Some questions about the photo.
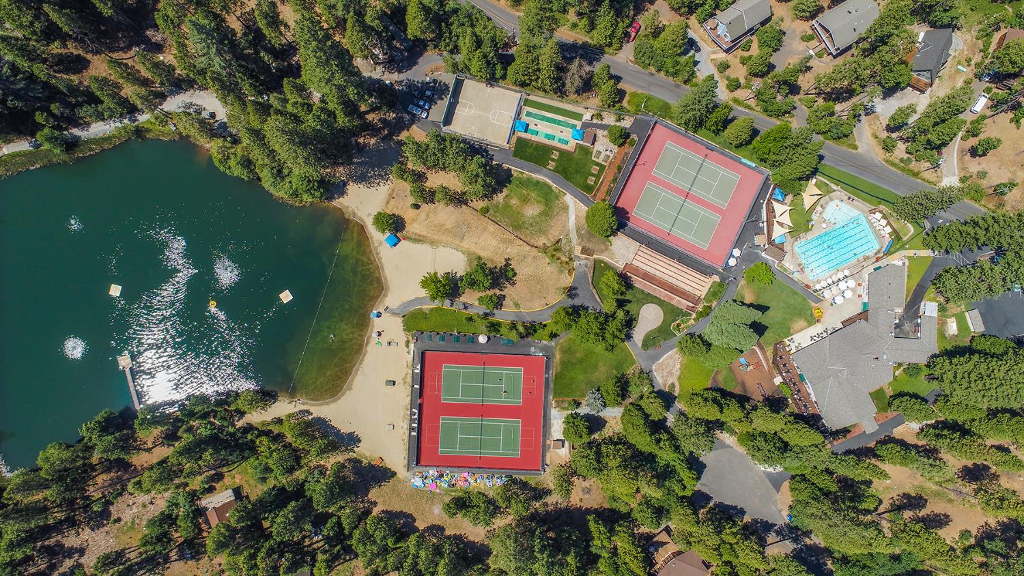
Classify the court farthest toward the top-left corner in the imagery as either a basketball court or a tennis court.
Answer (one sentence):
I'd identify the court farthest toward the top-left corner as a basketball court.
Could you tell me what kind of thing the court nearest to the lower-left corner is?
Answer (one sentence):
The court nearest to the lower-left corner can be classified as a tennis court.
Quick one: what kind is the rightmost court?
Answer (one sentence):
The rightmost court in the image is a tennis court.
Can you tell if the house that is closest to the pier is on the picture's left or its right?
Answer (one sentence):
It is on the left.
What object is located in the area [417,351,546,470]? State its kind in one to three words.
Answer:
tennis court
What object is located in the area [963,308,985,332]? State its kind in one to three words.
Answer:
shed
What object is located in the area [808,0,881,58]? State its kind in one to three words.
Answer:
house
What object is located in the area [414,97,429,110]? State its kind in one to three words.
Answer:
vehicle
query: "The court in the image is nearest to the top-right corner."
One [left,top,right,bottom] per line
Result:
[615,123,767,267]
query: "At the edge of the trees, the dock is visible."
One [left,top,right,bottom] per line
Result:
[116,355,139,410]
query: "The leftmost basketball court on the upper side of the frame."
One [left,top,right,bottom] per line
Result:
[443,77,522,145]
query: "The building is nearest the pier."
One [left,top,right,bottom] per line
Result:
[199,491,240,526]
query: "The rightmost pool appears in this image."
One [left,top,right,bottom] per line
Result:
[785,192,896,288]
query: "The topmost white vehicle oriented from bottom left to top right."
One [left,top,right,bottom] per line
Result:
[973,93,989,113]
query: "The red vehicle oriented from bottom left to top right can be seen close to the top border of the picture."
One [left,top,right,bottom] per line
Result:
[627,22,641,39]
